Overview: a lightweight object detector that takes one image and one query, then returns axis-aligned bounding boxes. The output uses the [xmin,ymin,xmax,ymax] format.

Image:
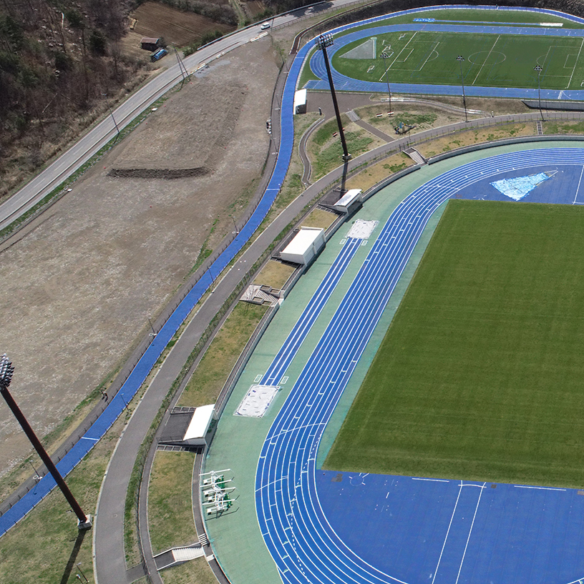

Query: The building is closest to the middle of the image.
[272,228,326,265]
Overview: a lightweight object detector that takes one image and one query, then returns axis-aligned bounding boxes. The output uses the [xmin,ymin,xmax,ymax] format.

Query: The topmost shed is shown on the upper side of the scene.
[134,35,163,50]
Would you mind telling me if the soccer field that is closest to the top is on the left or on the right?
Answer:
right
